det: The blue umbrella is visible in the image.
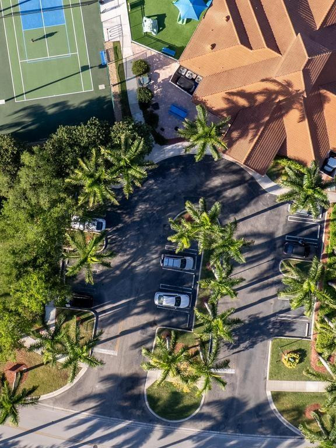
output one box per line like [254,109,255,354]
[174,0,208,21]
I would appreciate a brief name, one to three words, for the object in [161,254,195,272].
car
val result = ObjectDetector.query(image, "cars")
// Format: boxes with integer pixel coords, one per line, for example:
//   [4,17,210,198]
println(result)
[288,201,322,216]
[280,240,315,257]
[72,216,106,232]
[154,290,190,309]
[161,254,195,272]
